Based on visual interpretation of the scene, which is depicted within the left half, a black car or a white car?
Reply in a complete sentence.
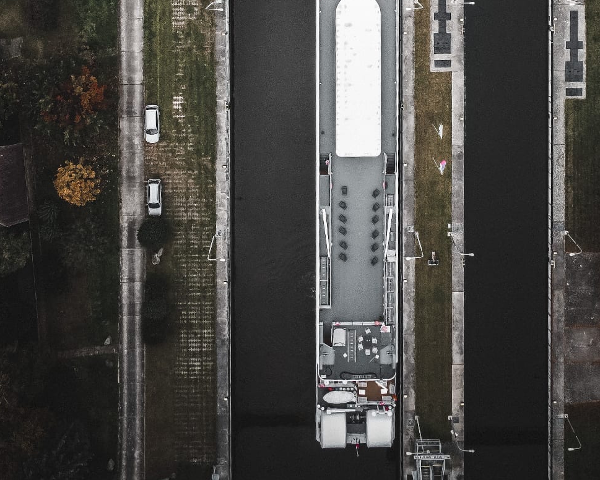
You can see a white car within the left half.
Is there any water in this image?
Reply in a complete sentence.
Yes, water can be seen from above here.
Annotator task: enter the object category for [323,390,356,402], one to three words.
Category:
boat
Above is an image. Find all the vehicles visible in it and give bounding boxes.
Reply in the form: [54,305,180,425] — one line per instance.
[145,181,161,216]
[142,107,159,143]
